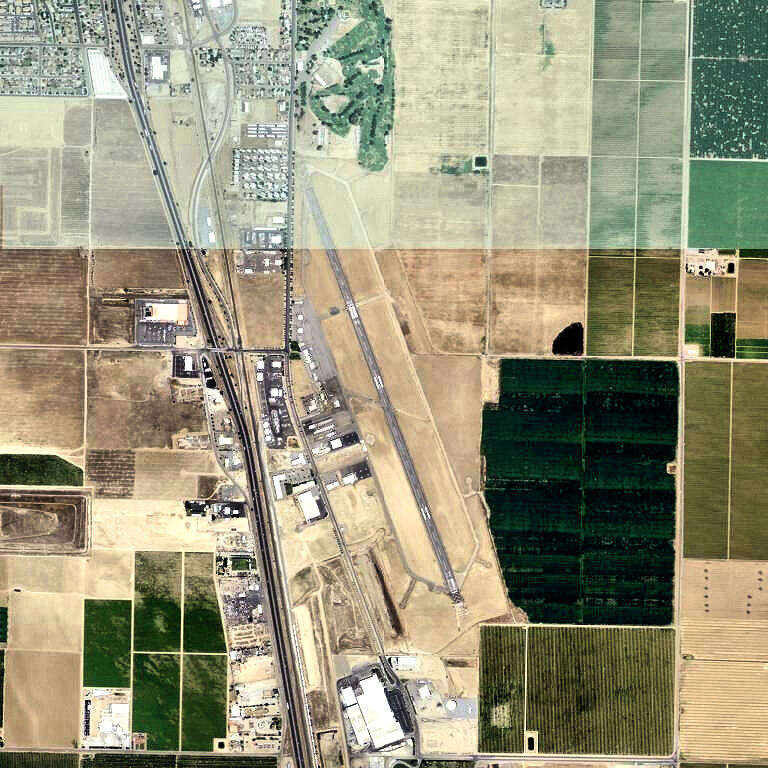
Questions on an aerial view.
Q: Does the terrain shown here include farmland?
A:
Yes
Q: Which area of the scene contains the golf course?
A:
top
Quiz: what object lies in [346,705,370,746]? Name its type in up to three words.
building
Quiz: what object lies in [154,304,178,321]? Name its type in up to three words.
building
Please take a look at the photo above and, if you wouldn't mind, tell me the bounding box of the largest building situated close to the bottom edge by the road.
[358,675,405,748]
